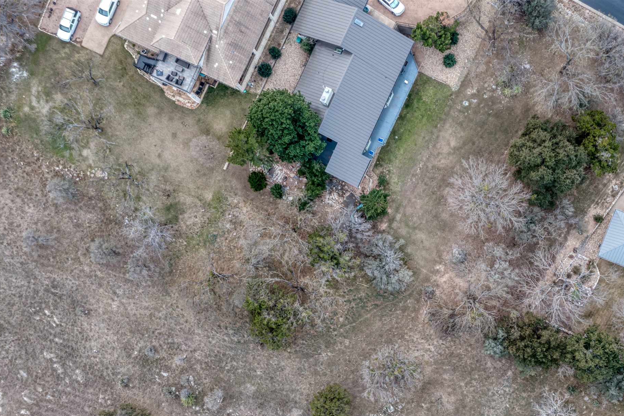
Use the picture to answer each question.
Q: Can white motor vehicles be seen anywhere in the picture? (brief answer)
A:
Yes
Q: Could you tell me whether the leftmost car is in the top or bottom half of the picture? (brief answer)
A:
top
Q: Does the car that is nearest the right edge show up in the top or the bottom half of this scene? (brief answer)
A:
top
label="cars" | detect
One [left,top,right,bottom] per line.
[97,0,120,29]
[59,6,83,43]
[375,0,405,20]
